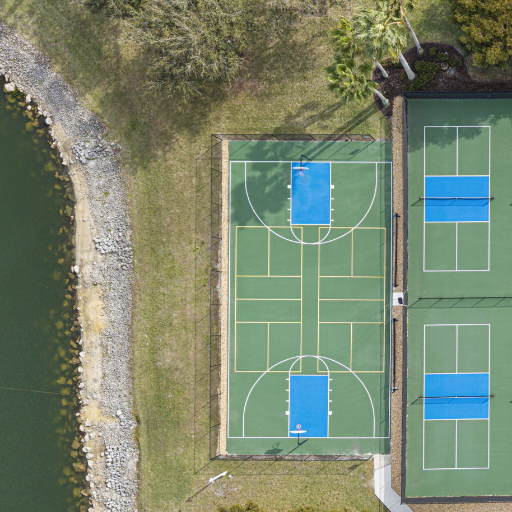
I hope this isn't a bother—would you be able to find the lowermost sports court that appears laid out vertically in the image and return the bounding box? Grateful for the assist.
[423,324,491,469]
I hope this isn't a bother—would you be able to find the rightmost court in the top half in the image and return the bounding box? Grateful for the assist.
[423,125,491,271]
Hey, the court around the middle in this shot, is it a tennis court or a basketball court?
basketball court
